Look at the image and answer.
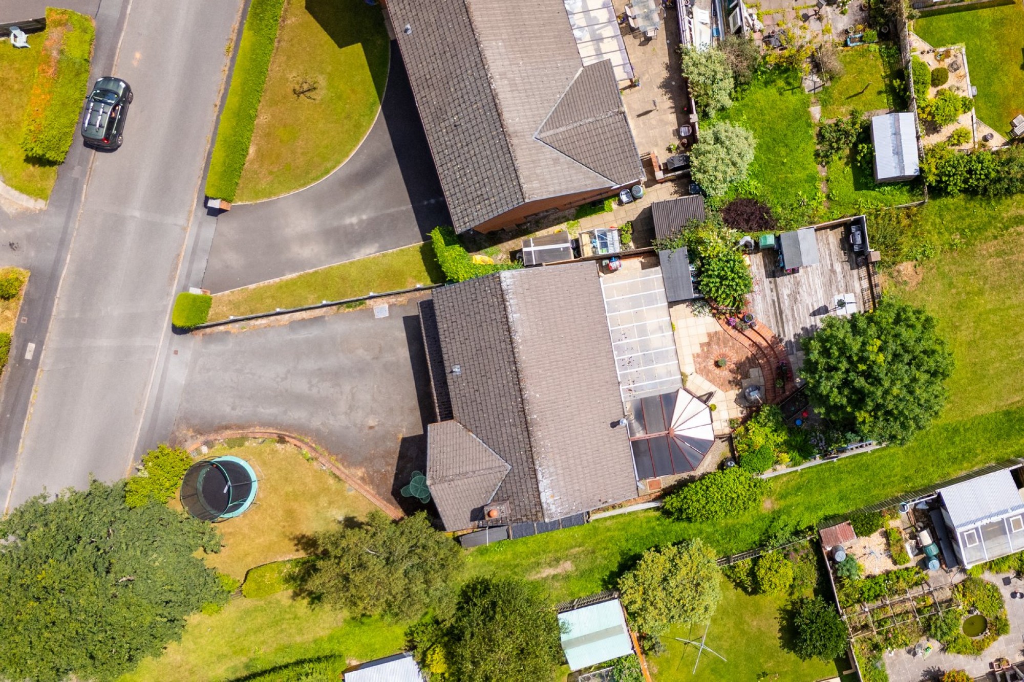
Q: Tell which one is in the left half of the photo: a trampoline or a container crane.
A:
trampoline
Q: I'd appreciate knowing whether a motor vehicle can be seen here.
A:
Yes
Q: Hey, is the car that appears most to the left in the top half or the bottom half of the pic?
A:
top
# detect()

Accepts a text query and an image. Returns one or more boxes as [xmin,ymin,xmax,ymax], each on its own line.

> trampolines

[178,449,266,531]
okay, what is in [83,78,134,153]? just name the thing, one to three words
car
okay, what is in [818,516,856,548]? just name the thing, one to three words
shed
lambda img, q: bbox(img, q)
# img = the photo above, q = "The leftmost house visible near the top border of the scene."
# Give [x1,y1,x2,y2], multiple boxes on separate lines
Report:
[356,0,650,239]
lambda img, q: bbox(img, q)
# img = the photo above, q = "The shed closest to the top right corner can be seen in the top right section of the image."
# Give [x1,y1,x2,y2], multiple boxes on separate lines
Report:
[866,112,919,187]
